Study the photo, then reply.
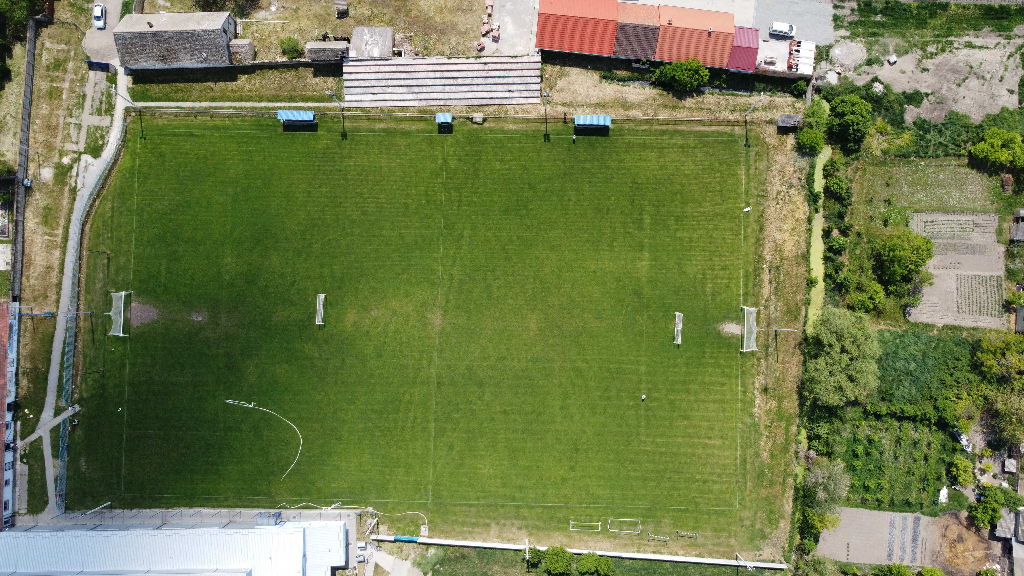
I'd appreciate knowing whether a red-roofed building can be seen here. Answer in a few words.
Yes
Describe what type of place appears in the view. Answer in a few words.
sports ground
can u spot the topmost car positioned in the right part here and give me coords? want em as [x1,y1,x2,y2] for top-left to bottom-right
[770,21,797,36]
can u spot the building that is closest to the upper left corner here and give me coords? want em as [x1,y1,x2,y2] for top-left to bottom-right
[113,11,234,69]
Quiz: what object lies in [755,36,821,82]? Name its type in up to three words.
building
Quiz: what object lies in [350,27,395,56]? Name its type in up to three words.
shed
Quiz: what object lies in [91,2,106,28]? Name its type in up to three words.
car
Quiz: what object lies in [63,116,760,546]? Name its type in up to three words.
soccer field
